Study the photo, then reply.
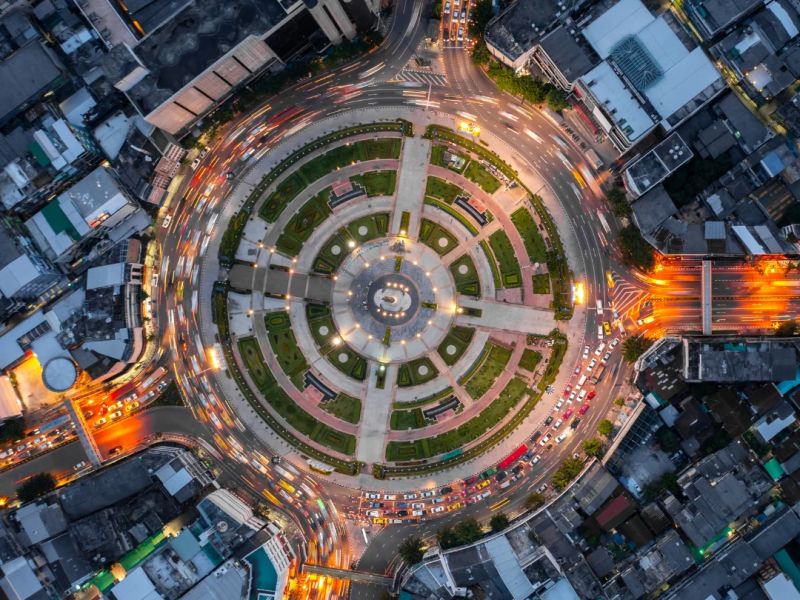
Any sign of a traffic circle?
Yes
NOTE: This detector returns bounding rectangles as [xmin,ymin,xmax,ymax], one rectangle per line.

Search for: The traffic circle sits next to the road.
[145,45,647,539]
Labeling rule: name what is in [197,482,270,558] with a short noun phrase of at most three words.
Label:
building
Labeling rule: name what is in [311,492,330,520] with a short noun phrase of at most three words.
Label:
vehicle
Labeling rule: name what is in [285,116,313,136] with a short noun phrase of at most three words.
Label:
bus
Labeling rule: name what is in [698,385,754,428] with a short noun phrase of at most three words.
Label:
house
